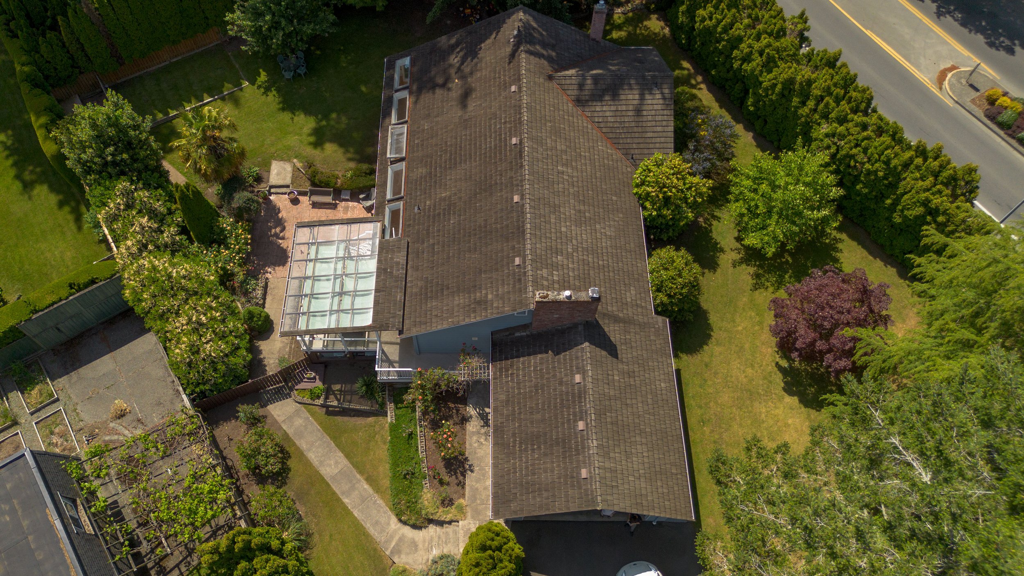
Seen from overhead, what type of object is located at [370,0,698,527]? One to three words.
house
